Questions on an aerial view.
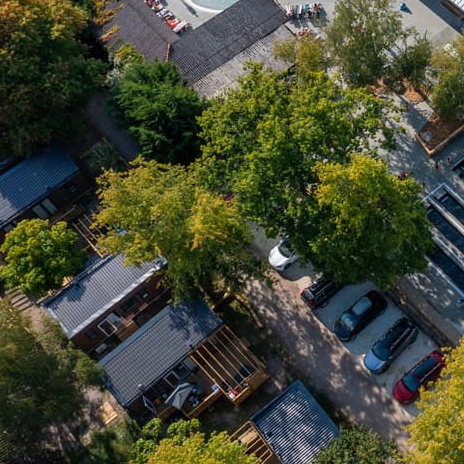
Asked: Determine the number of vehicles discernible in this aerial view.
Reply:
5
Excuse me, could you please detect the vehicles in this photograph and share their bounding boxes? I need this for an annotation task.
[361,311,420,371]
[265,219,312,263]
[331,285,390,341]
[391,343,451,404]
[295,261,351,311]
